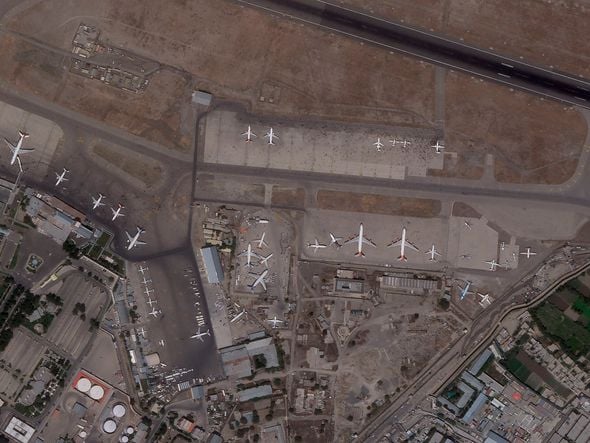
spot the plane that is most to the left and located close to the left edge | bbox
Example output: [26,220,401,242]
[3,132,33,164]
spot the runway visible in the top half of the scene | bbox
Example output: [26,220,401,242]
[239,0,590,108]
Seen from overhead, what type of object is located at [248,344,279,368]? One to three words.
building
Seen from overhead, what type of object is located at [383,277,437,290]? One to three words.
shed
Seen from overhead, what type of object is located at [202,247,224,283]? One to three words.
hangar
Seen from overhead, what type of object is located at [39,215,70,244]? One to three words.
building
